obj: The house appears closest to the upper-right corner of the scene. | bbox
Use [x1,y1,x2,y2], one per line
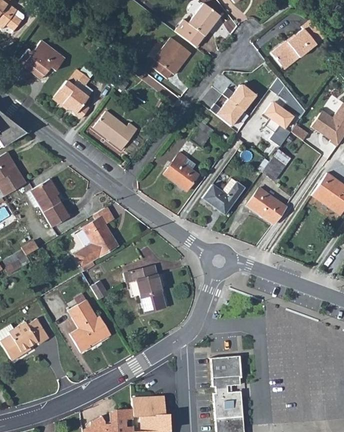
[269,23,318,68]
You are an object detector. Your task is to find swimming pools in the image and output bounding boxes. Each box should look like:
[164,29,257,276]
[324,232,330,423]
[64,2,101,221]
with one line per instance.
[0,205,12,224]
[241,150,254,162]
